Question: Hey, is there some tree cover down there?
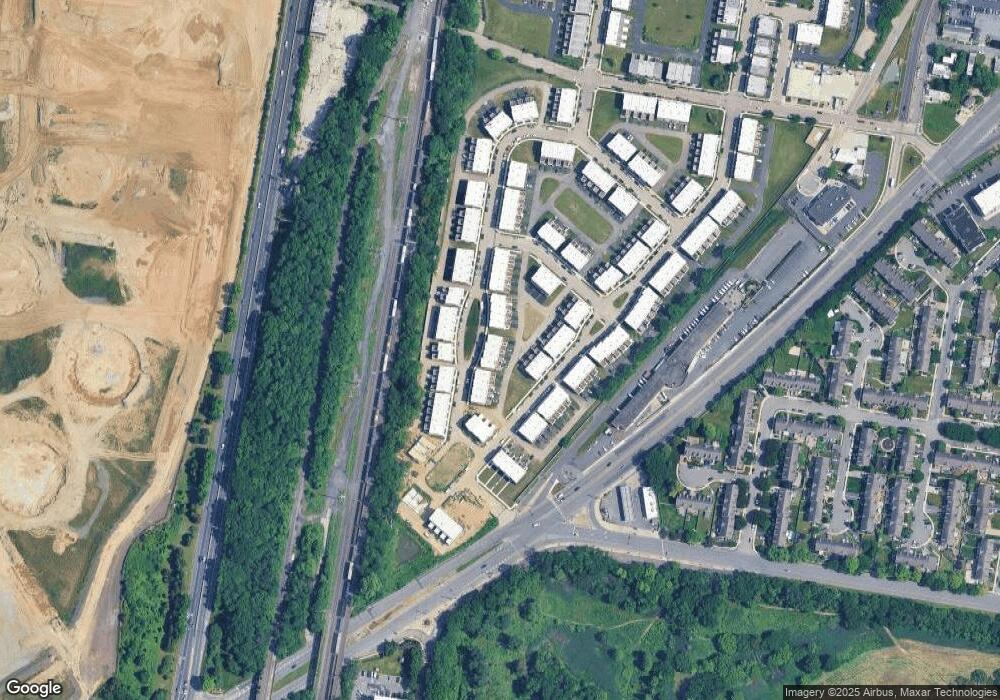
Yes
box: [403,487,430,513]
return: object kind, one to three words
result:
house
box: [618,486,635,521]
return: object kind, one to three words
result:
shed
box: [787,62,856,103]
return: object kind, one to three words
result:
building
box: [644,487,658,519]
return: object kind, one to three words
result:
shed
